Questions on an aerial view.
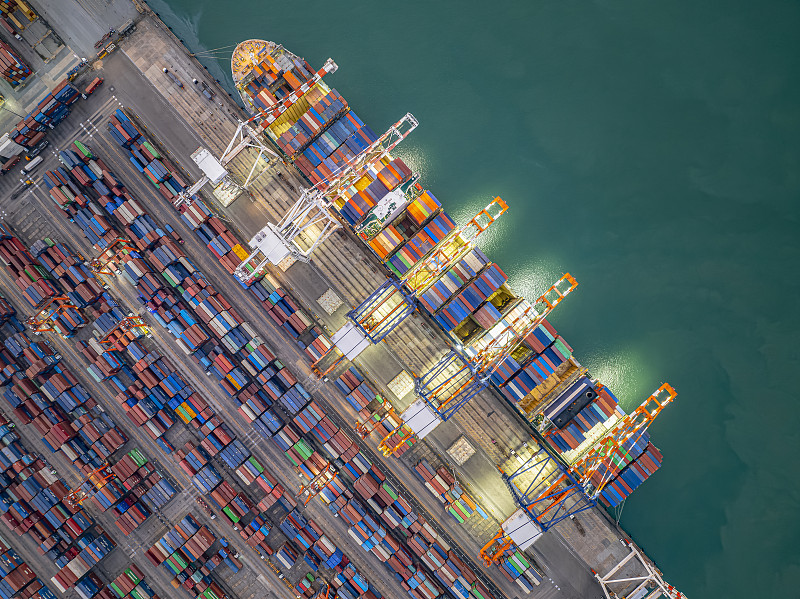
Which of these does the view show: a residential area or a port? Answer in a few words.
port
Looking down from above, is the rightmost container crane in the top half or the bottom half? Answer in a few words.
bottom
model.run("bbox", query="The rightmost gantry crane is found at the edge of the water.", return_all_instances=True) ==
[591,540,698,599]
